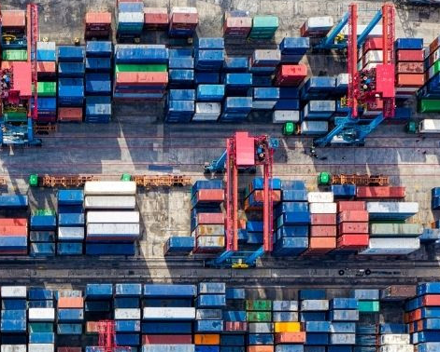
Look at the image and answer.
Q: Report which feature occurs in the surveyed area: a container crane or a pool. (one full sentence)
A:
The one in the frame is a container crane.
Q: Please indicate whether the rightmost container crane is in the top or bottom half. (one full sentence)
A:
The rightmost container crane is in the top half of the image.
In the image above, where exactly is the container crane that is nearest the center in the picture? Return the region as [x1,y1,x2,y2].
[206,128,275,267]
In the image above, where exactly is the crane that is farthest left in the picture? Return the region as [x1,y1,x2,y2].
[0,0,40,143]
